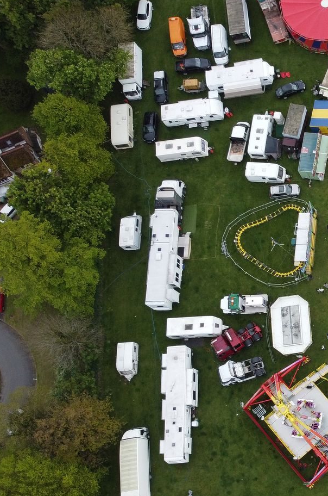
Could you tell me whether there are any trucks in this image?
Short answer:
Yes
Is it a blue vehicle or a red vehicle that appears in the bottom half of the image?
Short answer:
red vehicle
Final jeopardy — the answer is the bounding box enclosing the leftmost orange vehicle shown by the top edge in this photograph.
[168,17,189,58]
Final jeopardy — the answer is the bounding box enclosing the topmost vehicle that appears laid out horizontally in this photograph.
[175,58,212,74]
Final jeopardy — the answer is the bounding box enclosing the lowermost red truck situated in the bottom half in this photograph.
[214,324,264,359]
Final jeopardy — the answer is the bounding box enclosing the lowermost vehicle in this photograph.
[121,424,152,496]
